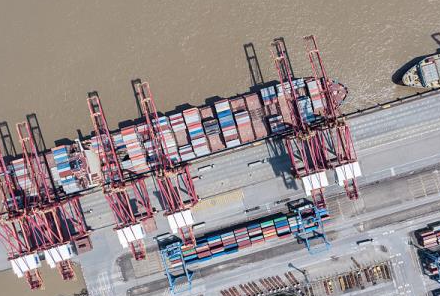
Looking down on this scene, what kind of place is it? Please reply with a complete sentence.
What you see here is a port.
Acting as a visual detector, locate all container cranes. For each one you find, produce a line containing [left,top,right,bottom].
[303,34,366,196]
[87,98,159,260]
[137,83,202,245]
[295,202,330,256]
[0,151,63,291]
[15,120,96,281]
[270,44,333,206]
[158,244,194,296]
